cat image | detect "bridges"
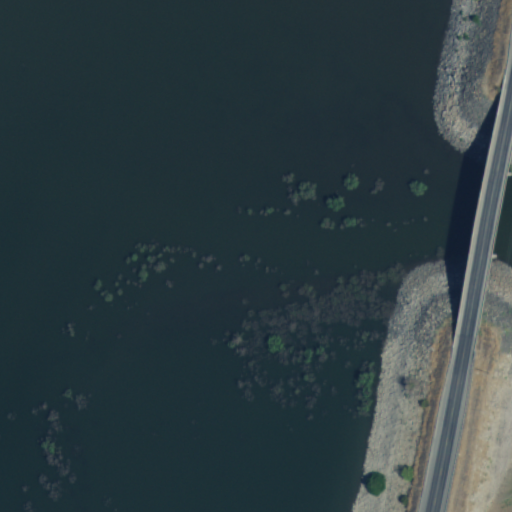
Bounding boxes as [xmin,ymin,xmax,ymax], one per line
[452,90,512,348]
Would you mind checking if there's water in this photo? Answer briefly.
Yes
